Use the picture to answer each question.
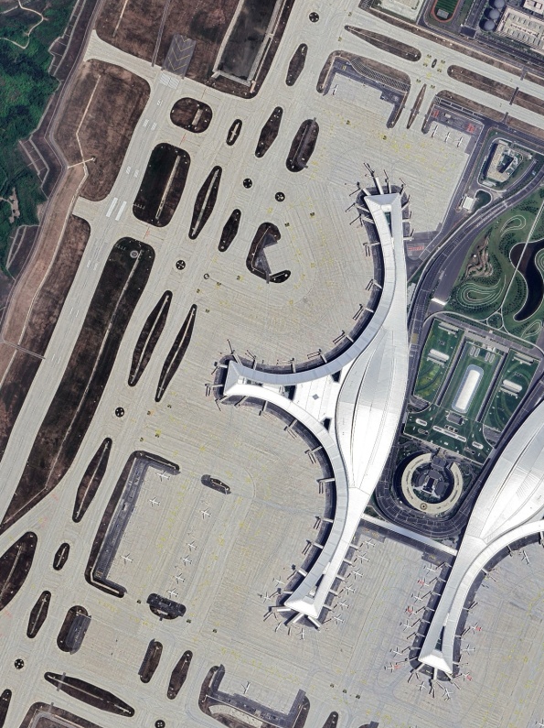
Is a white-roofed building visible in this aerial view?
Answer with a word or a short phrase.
Yes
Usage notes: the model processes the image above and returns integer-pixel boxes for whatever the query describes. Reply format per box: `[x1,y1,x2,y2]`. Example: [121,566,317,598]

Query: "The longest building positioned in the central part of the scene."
[208,162,414,635]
